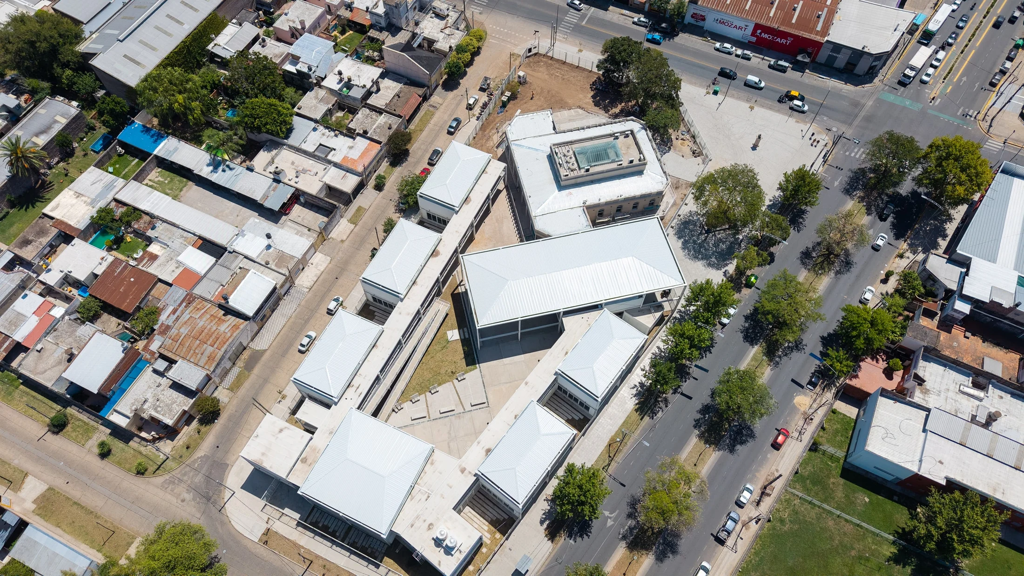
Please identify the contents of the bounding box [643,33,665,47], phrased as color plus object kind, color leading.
blue car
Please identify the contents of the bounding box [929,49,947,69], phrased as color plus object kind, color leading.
white vehicle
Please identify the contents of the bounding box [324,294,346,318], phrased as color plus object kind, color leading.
white car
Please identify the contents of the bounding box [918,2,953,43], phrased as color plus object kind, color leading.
white bus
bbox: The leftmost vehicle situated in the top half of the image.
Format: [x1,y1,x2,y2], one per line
[282,197,301,217]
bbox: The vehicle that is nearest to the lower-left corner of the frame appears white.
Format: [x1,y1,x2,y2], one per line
[296,329,319,356]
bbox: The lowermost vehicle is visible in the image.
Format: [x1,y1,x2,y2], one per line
[691,555,715,576]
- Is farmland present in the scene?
No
